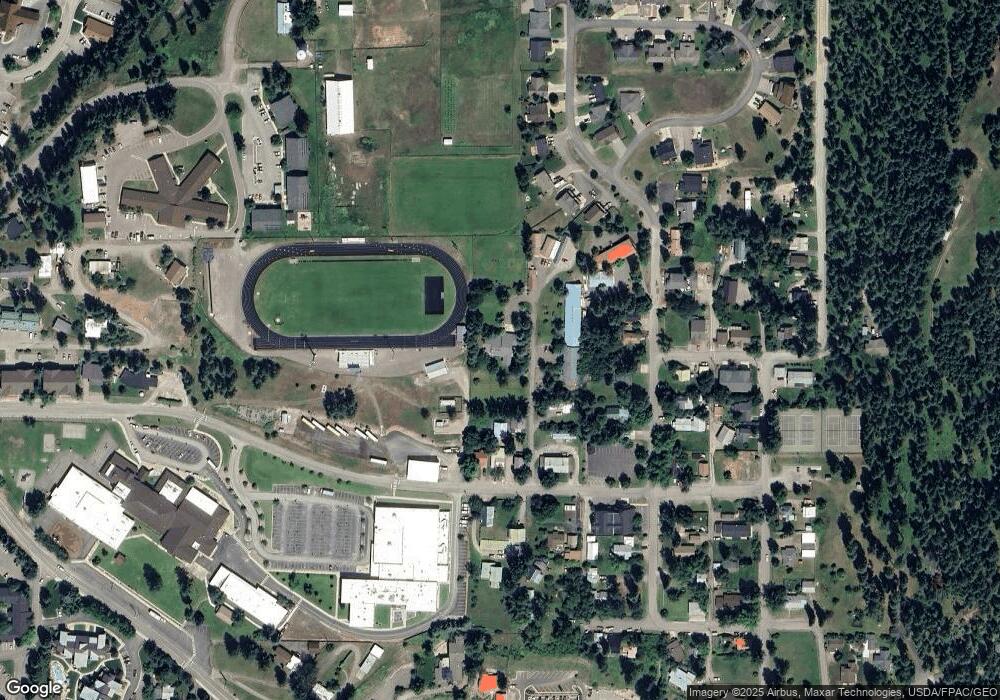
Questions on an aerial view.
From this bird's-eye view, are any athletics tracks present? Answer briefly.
Yes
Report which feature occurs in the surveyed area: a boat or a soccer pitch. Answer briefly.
soccer pitch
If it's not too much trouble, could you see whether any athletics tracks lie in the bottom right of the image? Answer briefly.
No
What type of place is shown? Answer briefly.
residential area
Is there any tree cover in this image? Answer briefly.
Yes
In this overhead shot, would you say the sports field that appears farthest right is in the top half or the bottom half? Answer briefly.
top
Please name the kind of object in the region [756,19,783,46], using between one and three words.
house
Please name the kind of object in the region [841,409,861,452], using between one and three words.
tennis court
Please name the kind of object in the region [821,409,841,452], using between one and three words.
tennis court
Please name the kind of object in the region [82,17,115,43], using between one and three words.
building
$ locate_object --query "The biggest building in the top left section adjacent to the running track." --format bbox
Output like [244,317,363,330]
[117,151,229,227]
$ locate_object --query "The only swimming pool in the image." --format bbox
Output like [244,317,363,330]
[50,660,64,681]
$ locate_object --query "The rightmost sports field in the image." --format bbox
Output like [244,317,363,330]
[388,157,520,236]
